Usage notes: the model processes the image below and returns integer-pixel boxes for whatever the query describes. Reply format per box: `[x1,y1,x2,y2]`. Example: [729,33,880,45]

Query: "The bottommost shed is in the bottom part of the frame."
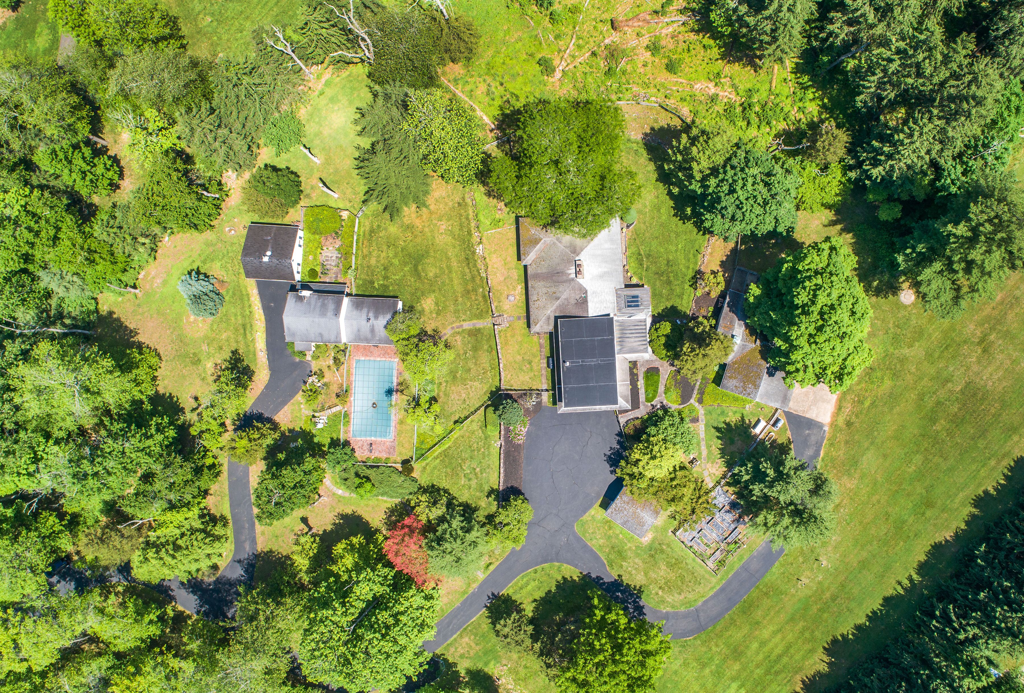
[605,482,666,539]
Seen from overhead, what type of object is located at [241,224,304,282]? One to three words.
building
